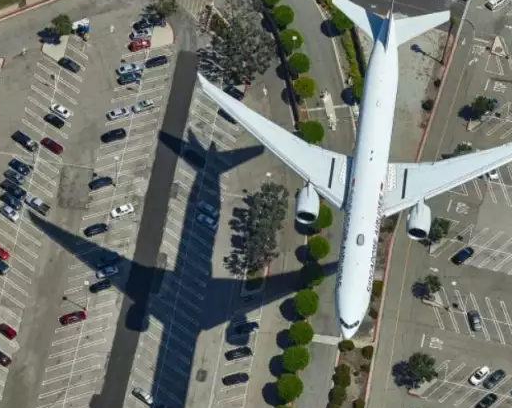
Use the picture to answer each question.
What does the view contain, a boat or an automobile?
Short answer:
automobile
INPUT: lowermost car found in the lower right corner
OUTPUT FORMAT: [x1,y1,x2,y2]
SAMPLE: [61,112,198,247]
[476,393,497,408]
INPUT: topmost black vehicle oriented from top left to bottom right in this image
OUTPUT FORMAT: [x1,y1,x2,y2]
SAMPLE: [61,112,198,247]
[59,55,81,73]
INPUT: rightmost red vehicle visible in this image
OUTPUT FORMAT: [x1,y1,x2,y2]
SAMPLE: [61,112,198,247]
[128,38,152,52]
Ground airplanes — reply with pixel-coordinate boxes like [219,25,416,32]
[198,0,512,341]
